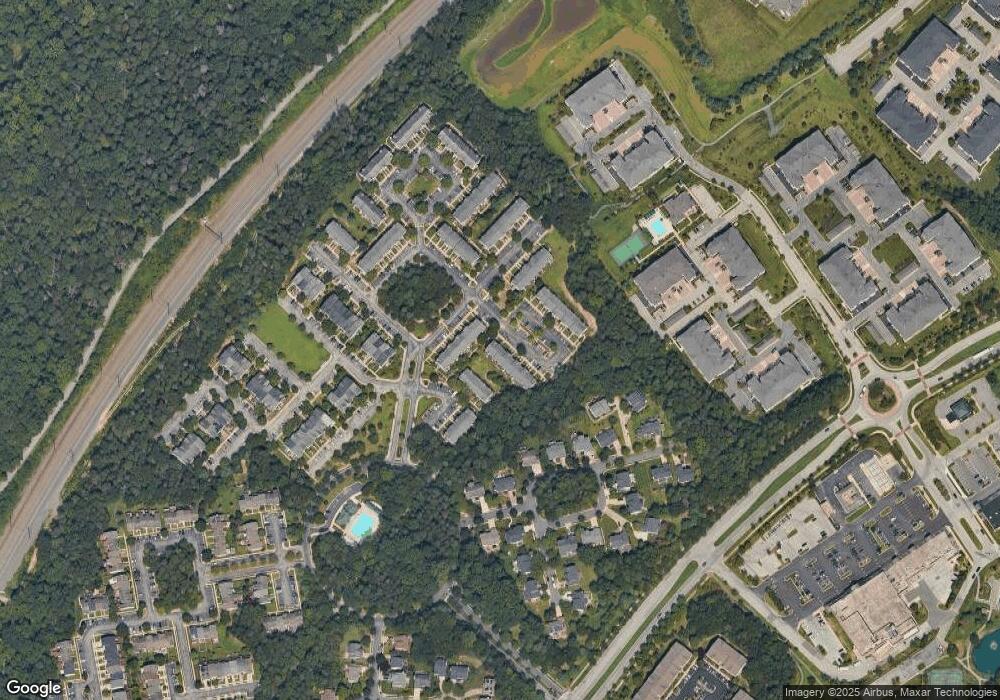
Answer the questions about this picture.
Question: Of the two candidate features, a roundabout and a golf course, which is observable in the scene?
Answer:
roundabout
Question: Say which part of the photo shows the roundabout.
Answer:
right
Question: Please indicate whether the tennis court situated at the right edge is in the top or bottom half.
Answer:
bottom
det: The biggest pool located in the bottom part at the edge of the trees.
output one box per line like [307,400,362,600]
[345,503,381,545]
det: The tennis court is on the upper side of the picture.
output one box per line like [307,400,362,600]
[609,230,650,267]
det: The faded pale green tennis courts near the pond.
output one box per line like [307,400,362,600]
[926,666,966,700]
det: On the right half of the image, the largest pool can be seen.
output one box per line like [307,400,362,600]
[639,207,674,245]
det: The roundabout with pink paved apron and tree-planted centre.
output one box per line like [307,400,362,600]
[839,353,930,439]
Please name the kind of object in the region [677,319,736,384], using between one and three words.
building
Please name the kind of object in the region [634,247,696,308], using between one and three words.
building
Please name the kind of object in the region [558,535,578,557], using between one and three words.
house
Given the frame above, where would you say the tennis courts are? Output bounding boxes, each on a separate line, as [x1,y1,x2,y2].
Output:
[926,666,966,700]
[609,230,650,267]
